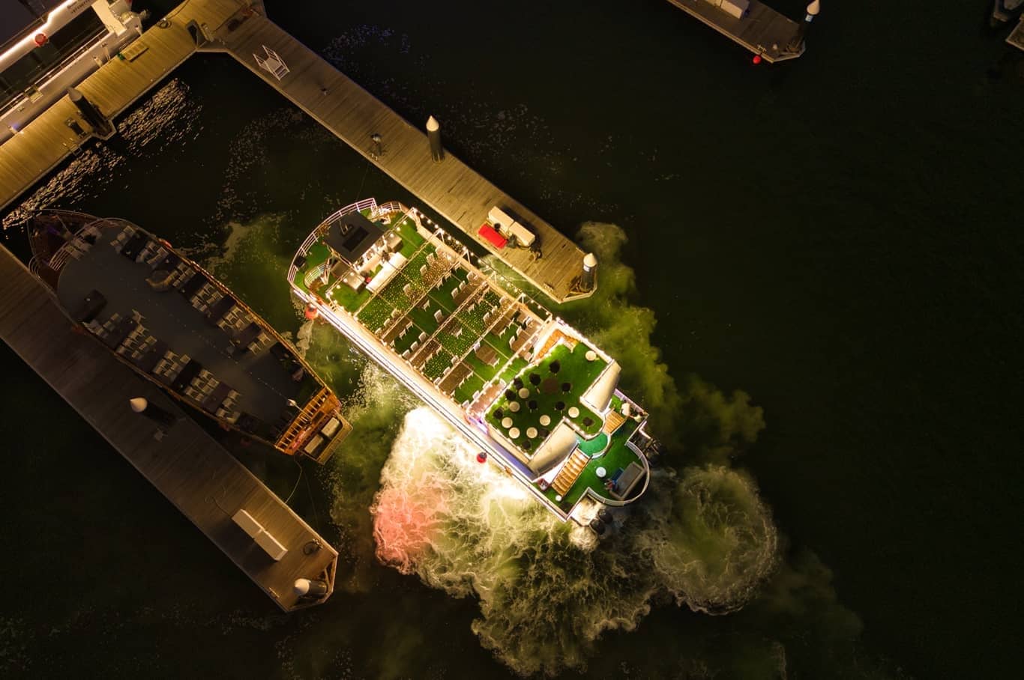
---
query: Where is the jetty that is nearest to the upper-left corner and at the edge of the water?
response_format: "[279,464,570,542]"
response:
[0,0,269,218]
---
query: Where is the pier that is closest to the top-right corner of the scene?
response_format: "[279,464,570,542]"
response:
[1002,15,1024,57]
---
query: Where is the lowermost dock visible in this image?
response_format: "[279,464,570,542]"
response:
[0,240,341,614]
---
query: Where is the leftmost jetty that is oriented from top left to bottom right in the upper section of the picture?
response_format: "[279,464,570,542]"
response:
[226,16,599,305]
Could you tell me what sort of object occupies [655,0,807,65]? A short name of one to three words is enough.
pier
